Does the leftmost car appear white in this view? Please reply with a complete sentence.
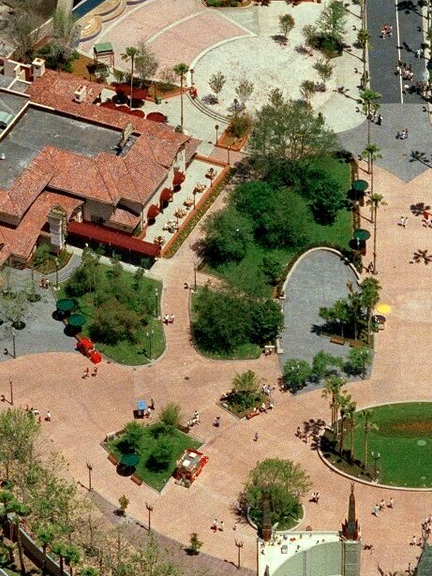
No, the color of the leftmost car is red.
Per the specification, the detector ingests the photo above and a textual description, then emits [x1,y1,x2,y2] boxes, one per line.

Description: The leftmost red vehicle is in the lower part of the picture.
[70,330,110,362]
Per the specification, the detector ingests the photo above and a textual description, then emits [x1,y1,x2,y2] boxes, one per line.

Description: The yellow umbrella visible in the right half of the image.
[368,302,389,314]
